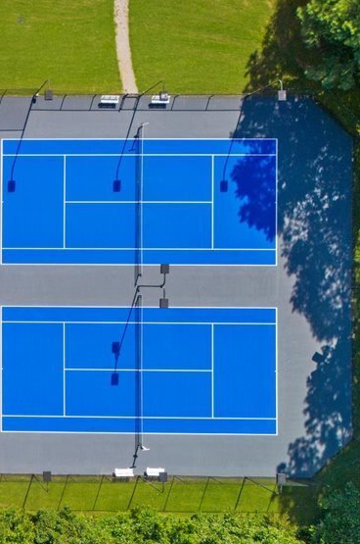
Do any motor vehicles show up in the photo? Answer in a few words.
No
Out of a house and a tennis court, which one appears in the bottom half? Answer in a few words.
tennis court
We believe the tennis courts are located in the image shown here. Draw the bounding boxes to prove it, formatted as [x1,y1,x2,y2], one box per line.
[2,139,279,266]
[1,306,279,436]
